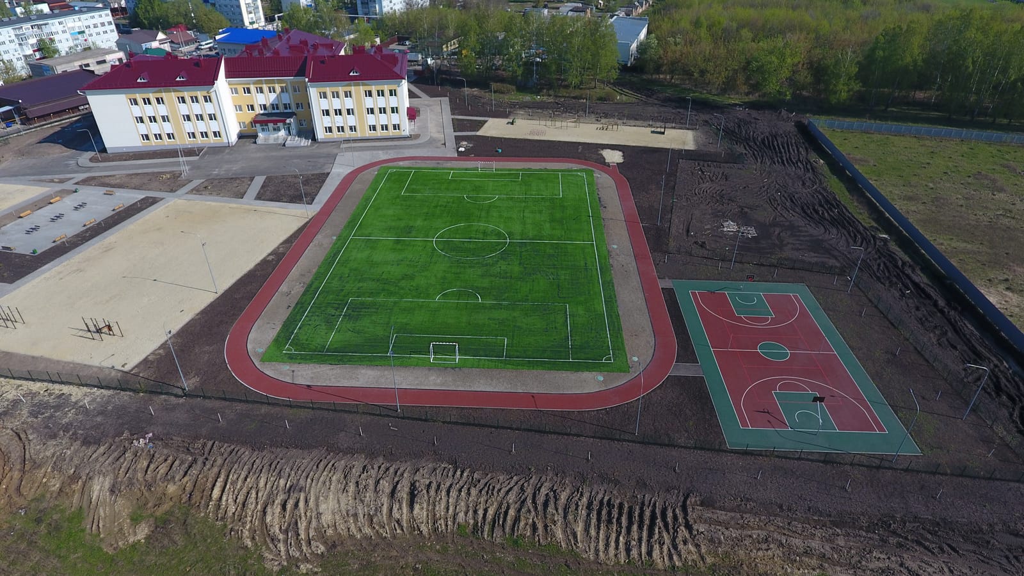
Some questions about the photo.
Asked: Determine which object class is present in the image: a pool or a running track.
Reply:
running track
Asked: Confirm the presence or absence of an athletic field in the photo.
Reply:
Yes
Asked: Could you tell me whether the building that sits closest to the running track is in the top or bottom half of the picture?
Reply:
top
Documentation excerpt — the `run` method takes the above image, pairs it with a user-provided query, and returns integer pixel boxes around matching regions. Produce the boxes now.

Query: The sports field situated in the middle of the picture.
[261,166,630,372]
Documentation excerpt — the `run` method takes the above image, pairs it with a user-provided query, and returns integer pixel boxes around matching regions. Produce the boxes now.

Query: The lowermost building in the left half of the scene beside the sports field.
[81,20,423,152]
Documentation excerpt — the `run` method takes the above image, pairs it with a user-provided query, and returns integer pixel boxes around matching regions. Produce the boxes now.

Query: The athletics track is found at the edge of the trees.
[223,156,677,409]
